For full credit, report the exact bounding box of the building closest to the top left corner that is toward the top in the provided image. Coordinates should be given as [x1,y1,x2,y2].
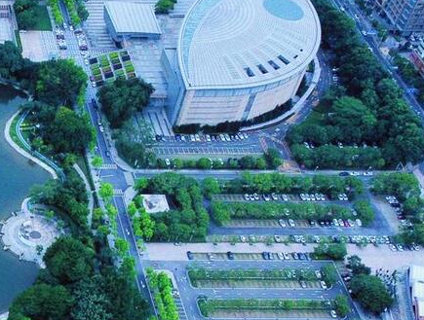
[104,0,162,48]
